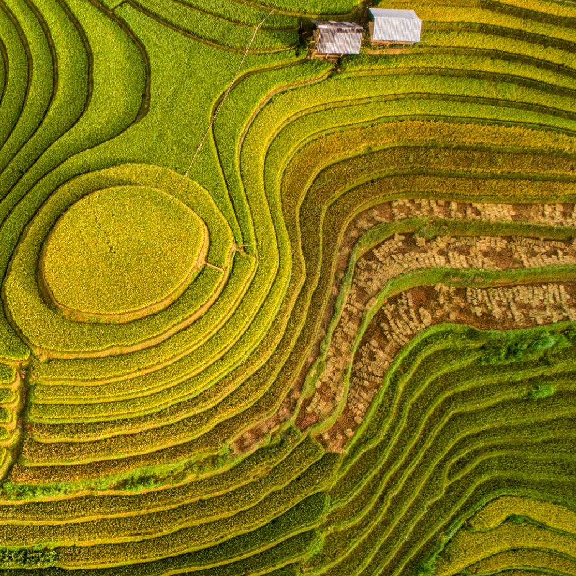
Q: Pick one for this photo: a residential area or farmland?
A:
farmland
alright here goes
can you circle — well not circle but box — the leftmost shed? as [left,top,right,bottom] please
[306,21,362,62]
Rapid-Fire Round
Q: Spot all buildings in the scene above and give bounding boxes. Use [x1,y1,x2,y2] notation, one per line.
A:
[359,9,423,52]
[306,21,362,62]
